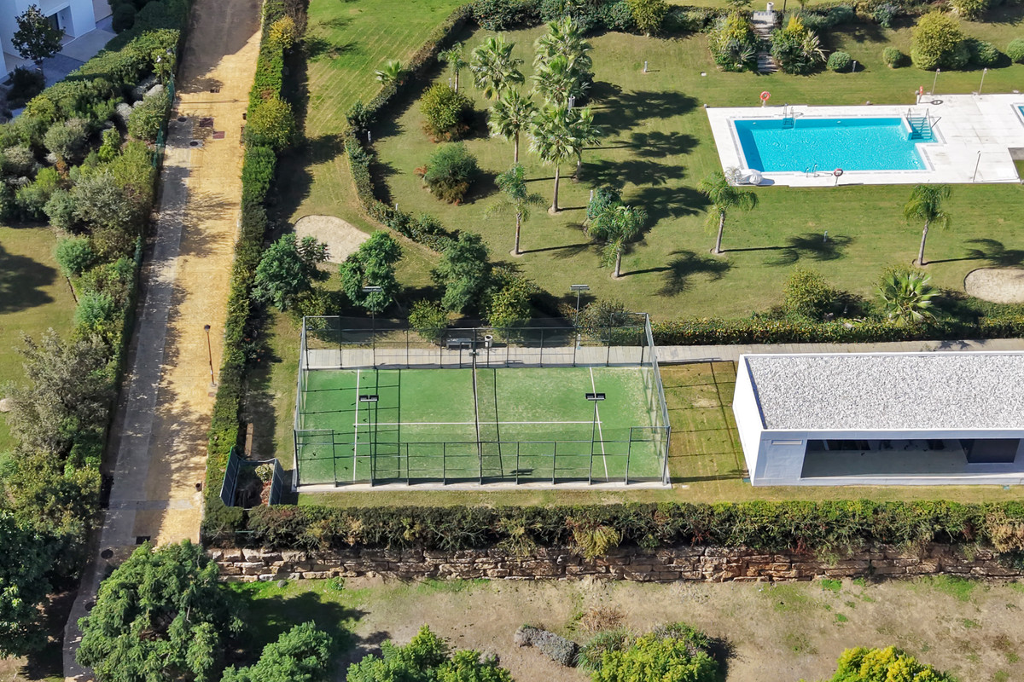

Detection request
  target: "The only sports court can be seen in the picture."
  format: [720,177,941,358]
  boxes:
[291,313,671,493]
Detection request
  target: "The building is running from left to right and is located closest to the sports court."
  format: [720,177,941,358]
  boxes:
[732,351,1024,486]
